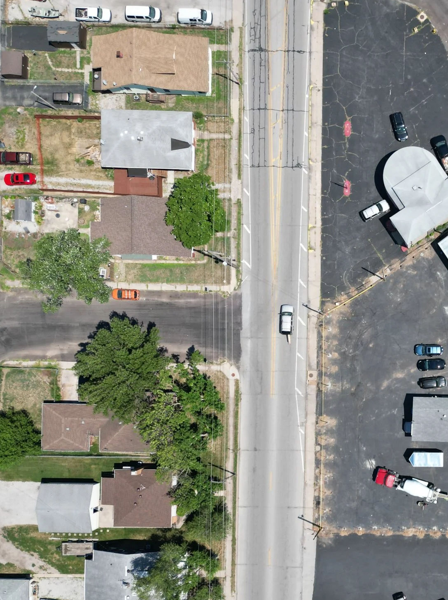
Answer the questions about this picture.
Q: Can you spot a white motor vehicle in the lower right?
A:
Yes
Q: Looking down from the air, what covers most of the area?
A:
paved ground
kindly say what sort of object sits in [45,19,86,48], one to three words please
shed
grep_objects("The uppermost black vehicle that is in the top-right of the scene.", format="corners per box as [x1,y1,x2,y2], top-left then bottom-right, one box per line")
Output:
[390,112,408,144]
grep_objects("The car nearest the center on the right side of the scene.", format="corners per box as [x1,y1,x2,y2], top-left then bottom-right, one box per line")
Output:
[279,305,294,335]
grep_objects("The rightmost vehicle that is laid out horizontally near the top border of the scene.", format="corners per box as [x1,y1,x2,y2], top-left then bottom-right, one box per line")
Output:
[175,7,214,25]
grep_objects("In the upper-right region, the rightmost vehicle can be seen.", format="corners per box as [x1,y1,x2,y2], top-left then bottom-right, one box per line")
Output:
[432,135,448,174]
